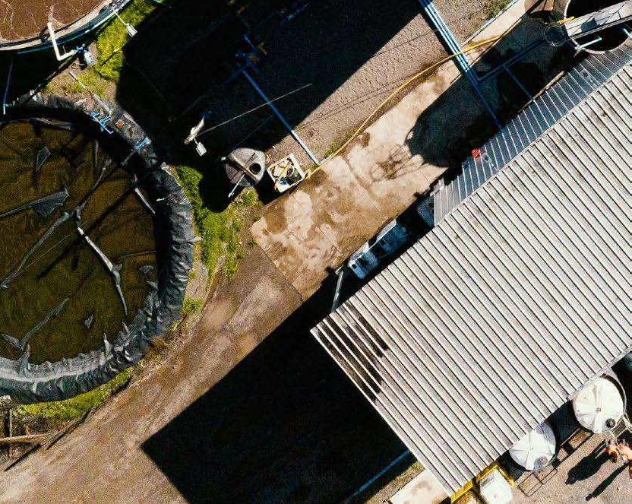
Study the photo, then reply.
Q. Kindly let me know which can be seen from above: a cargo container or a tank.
tank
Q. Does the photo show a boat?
No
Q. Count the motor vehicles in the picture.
2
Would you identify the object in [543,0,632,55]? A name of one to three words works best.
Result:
storage tank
